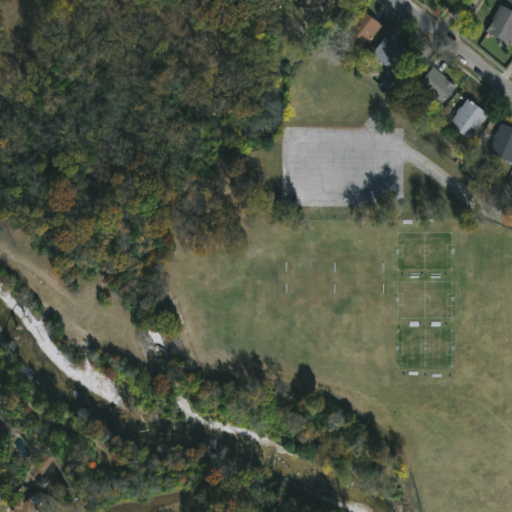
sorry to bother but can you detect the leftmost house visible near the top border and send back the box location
[350,12,380,42]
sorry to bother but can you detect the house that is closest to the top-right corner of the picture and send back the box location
[484,3,512,41]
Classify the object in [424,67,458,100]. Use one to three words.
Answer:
house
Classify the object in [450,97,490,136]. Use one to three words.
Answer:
house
